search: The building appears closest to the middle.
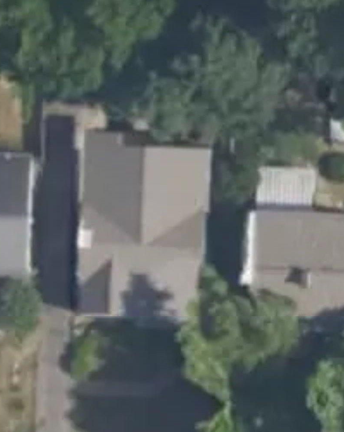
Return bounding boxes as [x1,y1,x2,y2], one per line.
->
[75,131,212,317]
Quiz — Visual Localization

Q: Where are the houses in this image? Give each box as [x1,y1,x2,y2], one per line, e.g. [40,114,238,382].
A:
[0,150,32,278]
[75,131,212,317]
[242,209,344,331]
